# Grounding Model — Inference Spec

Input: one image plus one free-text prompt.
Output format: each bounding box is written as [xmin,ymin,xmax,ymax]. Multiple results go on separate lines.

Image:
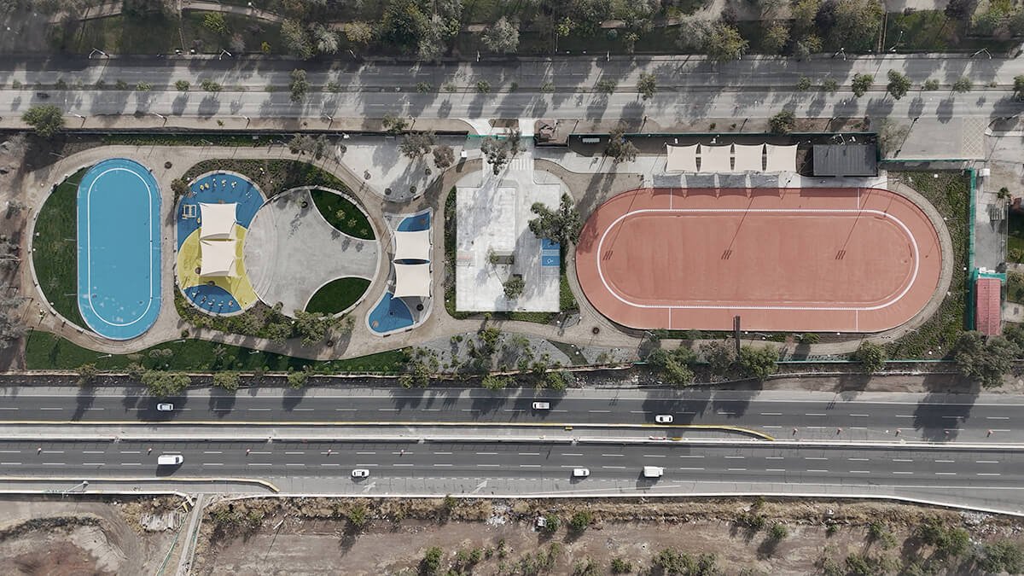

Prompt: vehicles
[532,402,550,411]
[156,403,173,412]
[643,468,665,479]
[573,468,590,477]
[152,455,182,466]
[656,415,673,423]
[351,470,369,478]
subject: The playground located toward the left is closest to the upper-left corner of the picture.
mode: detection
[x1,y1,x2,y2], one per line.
[174,170,261,317]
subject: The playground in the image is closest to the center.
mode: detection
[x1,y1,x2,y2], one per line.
[366,206,435,336]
